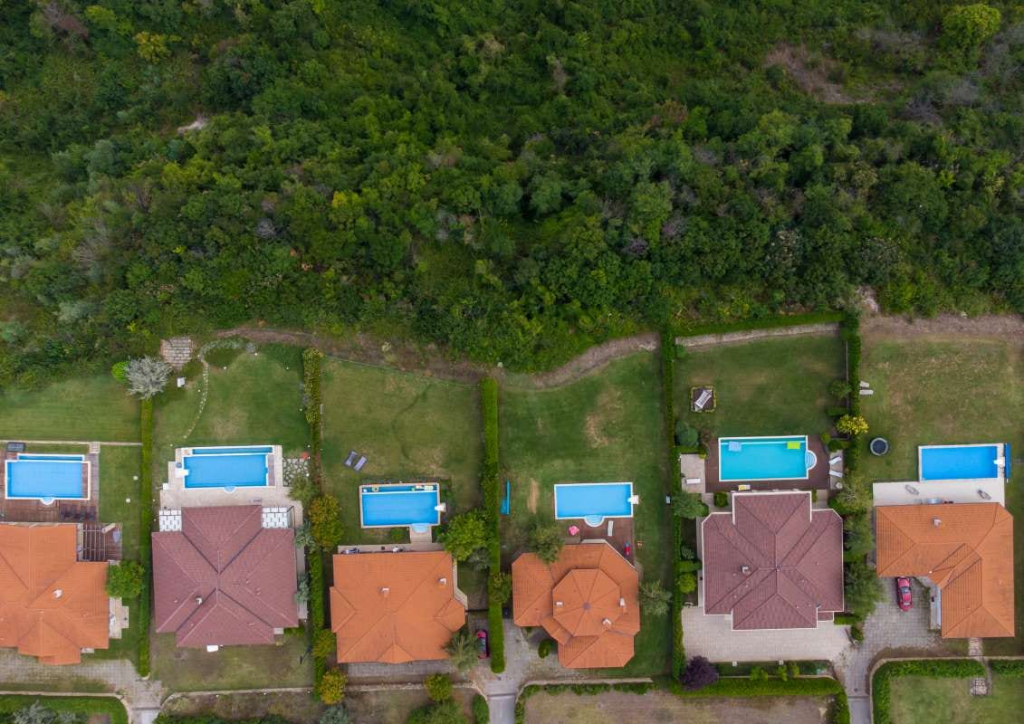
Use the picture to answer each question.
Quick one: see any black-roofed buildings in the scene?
No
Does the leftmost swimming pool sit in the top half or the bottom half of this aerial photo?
bottom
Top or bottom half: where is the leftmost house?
bottom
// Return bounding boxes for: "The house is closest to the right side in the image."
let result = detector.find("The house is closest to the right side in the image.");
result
[872,502,1015,638]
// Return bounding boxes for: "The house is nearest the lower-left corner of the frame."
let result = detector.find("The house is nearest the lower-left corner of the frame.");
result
[0,523,115,665]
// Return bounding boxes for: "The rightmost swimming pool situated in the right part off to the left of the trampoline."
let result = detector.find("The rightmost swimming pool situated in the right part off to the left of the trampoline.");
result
[719,435,818,482]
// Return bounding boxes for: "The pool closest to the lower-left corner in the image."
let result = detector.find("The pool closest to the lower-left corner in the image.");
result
[5,454,91,507]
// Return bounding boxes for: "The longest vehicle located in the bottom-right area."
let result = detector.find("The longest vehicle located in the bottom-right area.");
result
[893,577,911,609]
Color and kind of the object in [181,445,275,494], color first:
blue swimming pool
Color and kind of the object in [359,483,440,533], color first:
blue swimming pool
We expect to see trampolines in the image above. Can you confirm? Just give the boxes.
[870,438,887,455]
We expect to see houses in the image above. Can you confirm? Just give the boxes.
[152,504,299,654]
[0,523,115,665]
[872,502,1015,638]
[329,552,466,665]
[512,543,640,669]
[702,491,844,631]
